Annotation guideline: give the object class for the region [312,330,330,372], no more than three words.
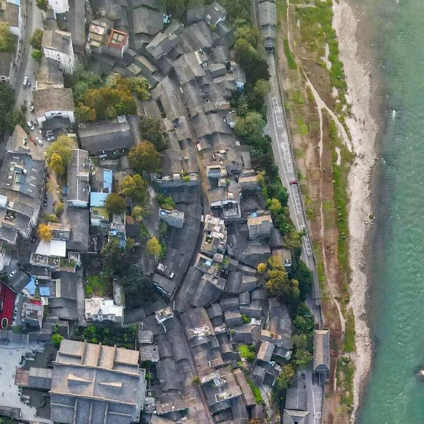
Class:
building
